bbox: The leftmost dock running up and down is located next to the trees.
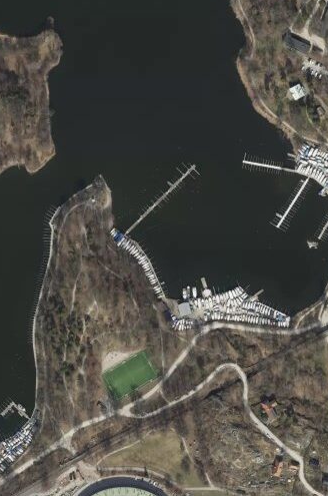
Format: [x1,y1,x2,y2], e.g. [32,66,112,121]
[30,208,61,414]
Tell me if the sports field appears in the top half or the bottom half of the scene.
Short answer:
bottom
